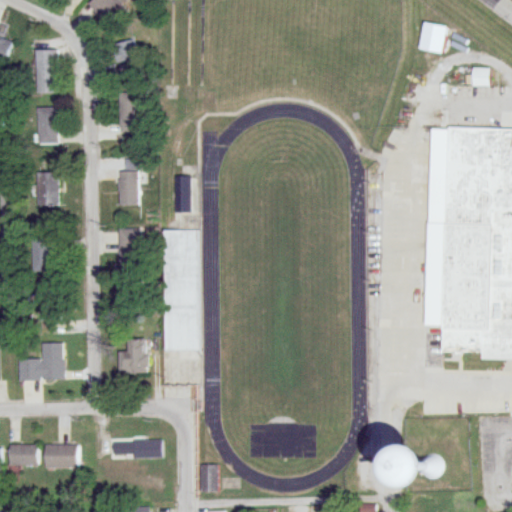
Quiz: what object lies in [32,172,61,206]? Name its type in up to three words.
house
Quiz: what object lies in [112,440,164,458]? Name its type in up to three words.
house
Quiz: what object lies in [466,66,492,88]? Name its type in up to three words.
shed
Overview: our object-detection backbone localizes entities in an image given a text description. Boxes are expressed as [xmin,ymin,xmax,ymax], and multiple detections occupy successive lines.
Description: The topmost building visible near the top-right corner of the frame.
[418,21,452,54]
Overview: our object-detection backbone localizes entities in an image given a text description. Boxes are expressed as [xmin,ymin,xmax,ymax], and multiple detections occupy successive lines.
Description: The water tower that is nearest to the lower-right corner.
[380,448,447,494]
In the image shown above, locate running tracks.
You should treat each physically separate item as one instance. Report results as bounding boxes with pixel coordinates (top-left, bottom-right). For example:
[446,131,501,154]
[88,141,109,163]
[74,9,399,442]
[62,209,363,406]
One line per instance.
[204,104,366,492]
